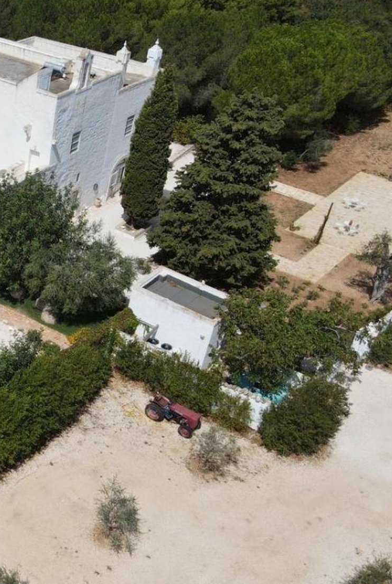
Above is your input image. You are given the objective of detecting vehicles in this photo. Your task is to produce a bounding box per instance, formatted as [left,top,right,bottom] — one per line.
[139,387,206,440]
